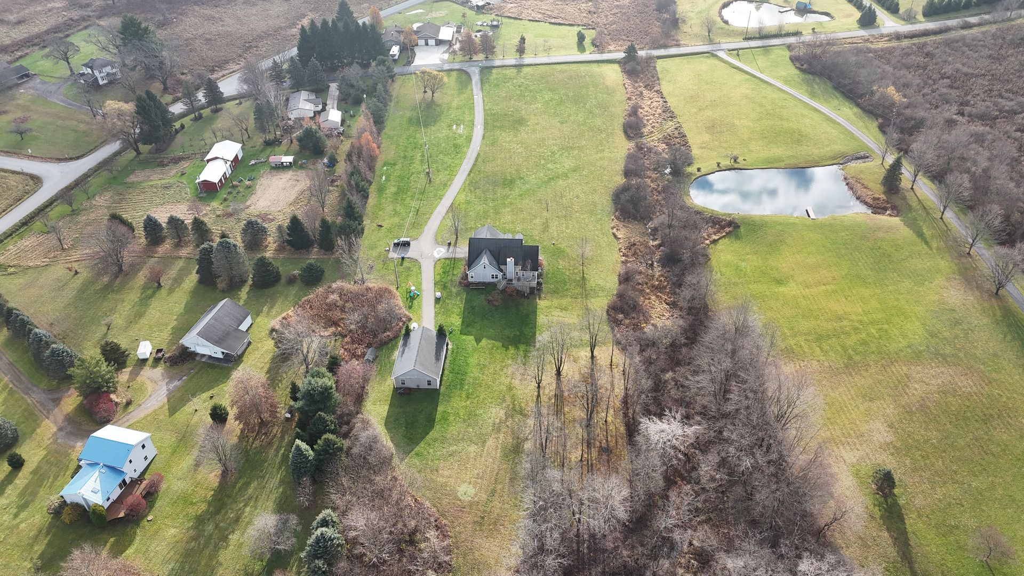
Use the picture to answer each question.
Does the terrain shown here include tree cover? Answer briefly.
Yes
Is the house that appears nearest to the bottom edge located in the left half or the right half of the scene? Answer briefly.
left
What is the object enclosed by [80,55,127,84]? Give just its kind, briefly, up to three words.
house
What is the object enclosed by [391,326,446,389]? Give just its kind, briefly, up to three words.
building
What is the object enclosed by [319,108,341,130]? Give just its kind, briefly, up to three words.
building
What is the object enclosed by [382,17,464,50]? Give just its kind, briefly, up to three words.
house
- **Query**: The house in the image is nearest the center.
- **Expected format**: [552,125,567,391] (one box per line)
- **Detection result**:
[466,221,536,282]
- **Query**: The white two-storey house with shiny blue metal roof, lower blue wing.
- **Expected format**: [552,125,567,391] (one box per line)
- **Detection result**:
[52,424,159,515]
